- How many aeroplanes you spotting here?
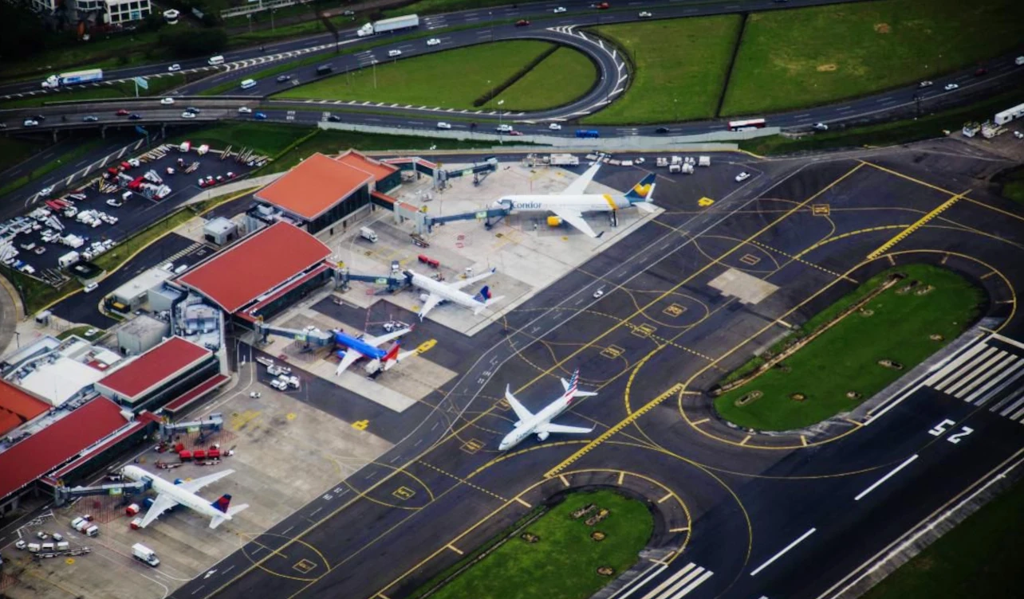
5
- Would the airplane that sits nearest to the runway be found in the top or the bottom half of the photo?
bottom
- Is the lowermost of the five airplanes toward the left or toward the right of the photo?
left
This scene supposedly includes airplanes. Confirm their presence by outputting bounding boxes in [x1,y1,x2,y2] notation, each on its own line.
[500,154,655,241]
[499,371,596,452]
[333,324,418,379]
[413,266,504,318]
[123,468,246,528]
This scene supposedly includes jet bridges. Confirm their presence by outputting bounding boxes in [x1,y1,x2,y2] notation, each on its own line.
[339,267,419,296]
[57,469,158,514]
[424,198,511,238]
[160,409,230,448]
[437,154,504,190]
[257,322,343,352]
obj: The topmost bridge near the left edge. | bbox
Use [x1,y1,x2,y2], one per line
[0,93,319,142]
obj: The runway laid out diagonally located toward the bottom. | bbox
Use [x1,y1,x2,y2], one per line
[597,302,1024,599]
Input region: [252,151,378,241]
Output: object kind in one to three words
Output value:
building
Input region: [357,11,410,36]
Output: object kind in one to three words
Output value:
truck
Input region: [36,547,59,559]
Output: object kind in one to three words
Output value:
vehicle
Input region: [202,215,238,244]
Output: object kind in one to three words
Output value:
building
